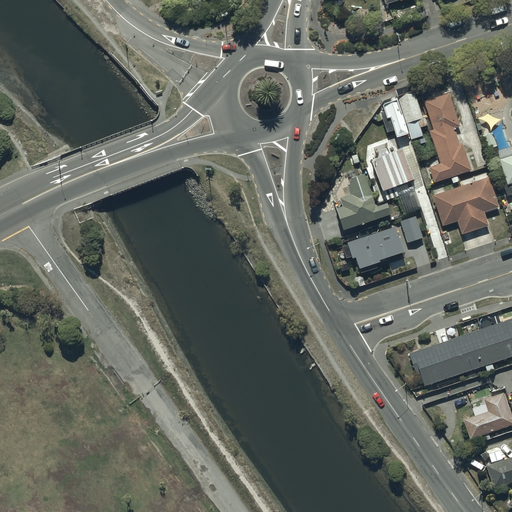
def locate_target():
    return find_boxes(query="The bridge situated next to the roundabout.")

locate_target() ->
[22,110,214,208]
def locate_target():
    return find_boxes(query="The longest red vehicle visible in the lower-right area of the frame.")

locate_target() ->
[372,392,385,408]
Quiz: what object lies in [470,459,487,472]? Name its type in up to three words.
vehicle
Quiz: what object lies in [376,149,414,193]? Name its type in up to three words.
house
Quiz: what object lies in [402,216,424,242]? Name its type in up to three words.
building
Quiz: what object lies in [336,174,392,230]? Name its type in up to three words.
house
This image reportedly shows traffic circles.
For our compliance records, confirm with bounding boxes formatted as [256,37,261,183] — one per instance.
[172,0,314,160]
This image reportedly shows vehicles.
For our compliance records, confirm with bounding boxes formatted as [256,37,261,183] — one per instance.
[294,2,301,18]
[293,126,300,140]
[294,28,301,44]
[492,18,509,27]
[378,316,394,324]
[470,459,487,472]
[372,392,385,408]
[443,302,459,311]
[382,76,398,85]
[174,38,190,47]
[501,444,512,458]
[359,323,374,332]
[264,61,284,70]
[500,249,512,258]
[296,89,304,105]
[222,44,236,52]
[309,257,318,273]
[448,20,463,28]
[338,84,354,93]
